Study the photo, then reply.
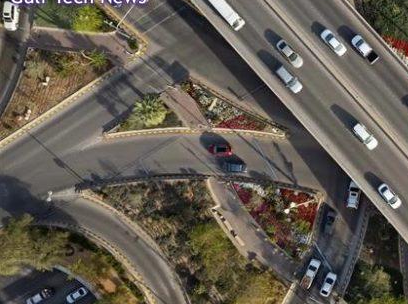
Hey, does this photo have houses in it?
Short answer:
No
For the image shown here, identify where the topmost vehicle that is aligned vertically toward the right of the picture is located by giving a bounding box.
[346,180,359,210]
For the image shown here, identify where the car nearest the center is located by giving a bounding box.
[208,144,233,156]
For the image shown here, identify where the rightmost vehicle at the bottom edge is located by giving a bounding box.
[320,270,338,298]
